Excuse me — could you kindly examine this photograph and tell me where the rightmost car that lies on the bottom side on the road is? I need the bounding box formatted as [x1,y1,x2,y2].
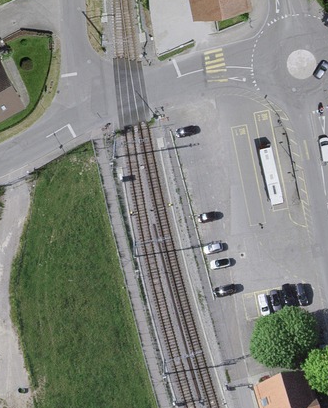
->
[296,282,308,305]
